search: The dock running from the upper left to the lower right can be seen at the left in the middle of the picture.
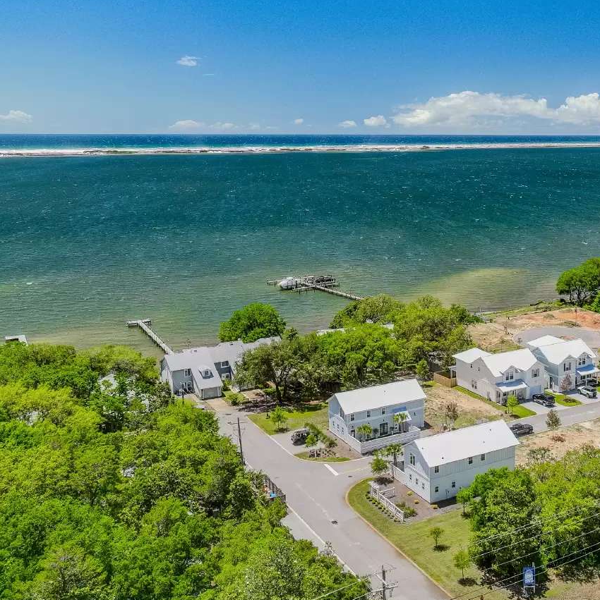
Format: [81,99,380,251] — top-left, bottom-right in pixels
[125,317,174,353]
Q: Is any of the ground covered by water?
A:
Yes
